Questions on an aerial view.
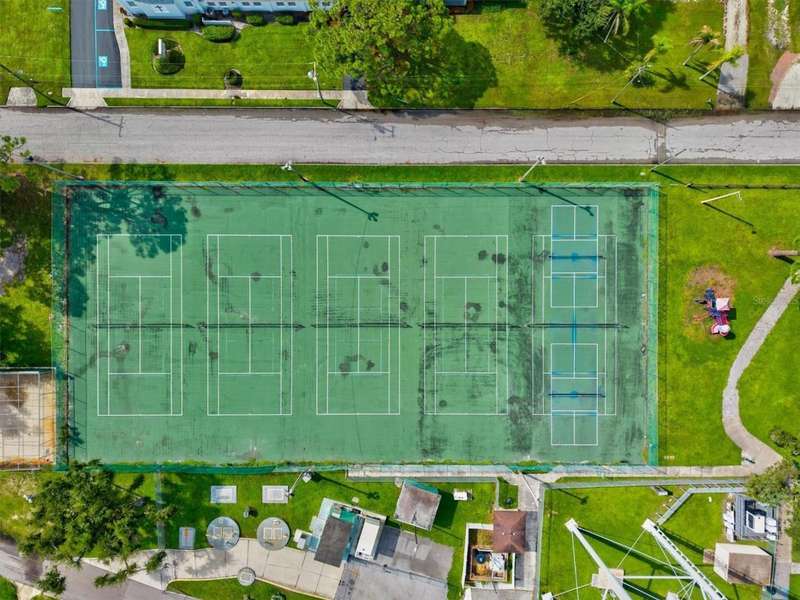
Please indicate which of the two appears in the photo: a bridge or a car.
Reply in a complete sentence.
I can see a bridge in this picture.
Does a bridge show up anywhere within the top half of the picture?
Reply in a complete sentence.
No, I see no bridge within the top half of the picture.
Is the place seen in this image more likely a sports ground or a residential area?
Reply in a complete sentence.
This image shows a sports ground.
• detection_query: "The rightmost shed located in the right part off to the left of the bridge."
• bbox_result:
[491,508,527,553]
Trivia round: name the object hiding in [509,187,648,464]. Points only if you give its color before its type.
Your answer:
green tennis court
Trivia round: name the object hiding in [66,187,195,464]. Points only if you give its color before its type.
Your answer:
green tennis court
